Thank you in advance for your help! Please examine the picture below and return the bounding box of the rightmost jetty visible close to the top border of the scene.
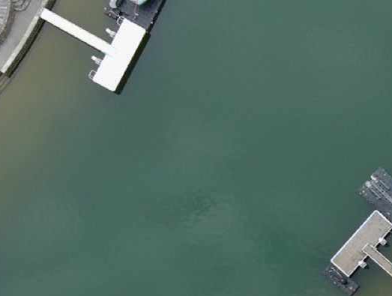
[128,0,171,32]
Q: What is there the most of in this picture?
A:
water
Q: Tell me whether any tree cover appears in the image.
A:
No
